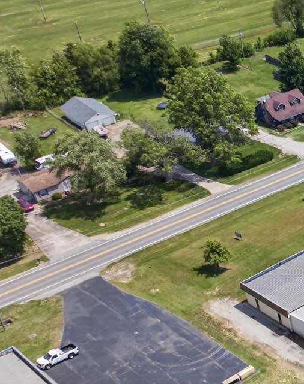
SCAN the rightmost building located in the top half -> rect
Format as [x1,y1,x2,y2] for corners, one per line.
[250,89,304,128]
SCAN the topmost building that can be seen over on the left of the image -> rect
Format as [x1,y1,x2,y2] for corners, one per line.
[67,92,123,131]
